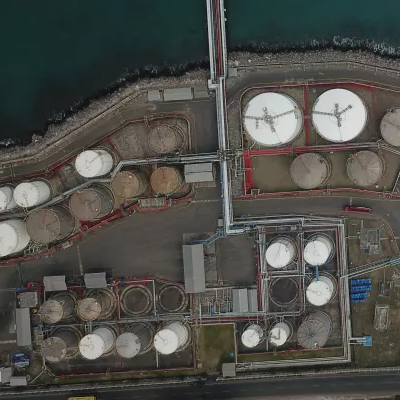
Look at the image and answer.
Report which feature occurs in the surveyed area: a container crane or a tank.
tank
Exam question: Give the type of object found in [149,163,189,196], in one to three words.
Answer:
storage tank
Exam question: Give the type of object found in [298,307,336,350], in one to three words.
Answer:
storage tank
